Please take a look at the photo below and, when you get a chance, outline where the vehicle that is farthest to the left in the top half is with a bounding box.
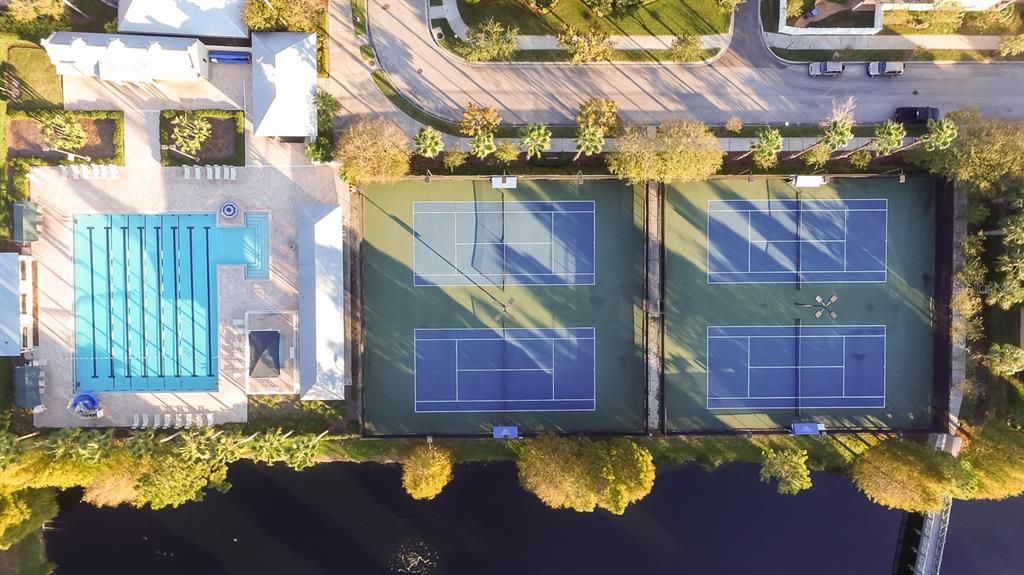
[808,59,844,78]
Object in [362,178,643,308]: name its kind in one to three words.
tennis court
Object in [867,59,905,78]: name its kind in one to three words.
car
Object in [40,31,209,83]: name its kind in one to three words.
building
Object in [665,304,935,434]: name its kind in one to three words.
tennis court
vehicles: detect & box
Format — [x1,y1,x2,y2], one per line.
[895,105,942,124]
[808,59,844,78]
[867,59,905,78]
